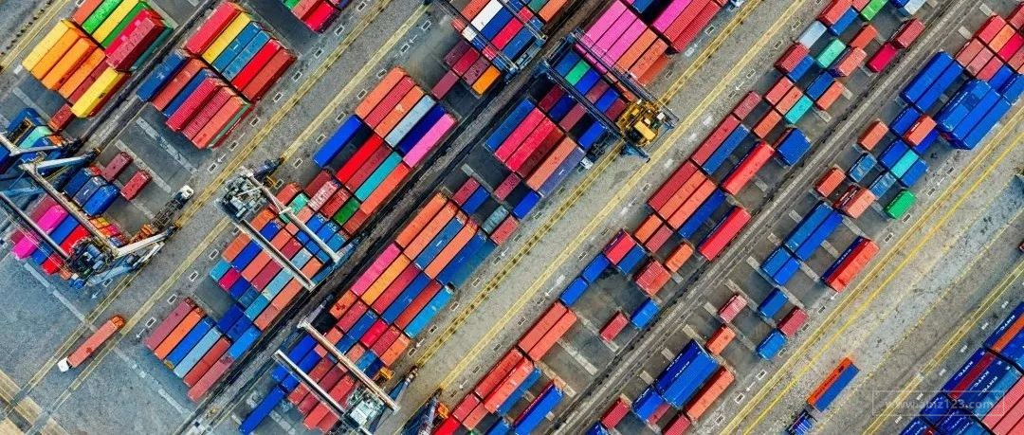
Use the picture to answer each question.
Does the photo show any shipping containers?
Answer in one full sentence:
Yes, the photo shows a shipping container.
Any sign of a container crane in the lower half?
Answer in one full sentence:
Yes, the scene does show a container crane in the lower half.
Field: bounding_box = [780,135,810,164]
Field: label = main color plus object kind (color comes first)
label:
blue shipping container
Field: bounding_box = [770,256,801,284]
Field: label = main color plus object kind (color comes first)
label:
blue shipping container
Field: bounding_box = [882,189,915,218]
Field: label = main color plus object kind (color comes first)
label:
green shipping container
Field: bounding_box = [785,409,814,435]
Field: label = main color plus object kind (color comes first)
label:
blue truck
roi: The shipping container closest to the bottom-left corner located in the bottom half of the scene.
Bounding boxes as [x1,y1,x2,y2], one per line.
[66,320,122,367]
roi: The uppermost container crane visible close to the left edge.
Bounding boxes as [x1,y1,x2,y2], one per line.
[0,104,89,178]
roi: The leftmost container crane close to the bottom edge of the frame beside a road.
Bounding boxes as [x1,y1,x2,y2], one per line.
[269,284,421,435]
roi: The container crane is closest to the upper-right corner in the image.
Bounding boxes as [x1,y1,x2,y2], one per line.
[537,24,682,162]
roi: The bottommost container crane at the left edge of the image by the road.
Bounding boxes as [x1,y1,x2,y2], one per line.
[0,150,183,294]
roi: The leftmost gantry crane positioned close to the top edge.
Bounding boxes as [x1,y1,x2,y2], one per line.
[427,0,549,77]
